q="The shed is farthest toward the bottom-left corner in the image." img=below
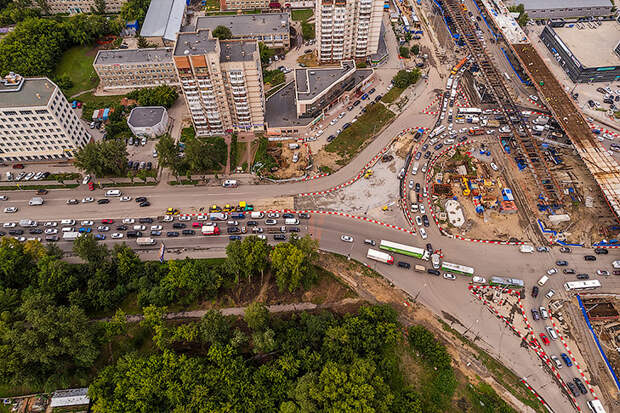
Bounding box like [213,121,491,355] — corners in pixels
[48,386,94,408]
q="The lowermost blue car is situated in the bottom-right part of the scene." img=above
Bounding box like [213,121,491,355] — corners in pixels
[560,352,573,368]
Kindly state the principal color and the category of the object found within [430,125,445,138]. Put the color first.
white vehicle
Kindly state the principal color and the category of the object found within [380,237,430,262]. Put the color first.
white truck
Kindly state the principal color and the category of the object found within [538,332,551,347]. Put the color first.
red vehicle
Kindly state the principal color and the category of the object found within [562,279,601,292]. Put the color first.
white vehicle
